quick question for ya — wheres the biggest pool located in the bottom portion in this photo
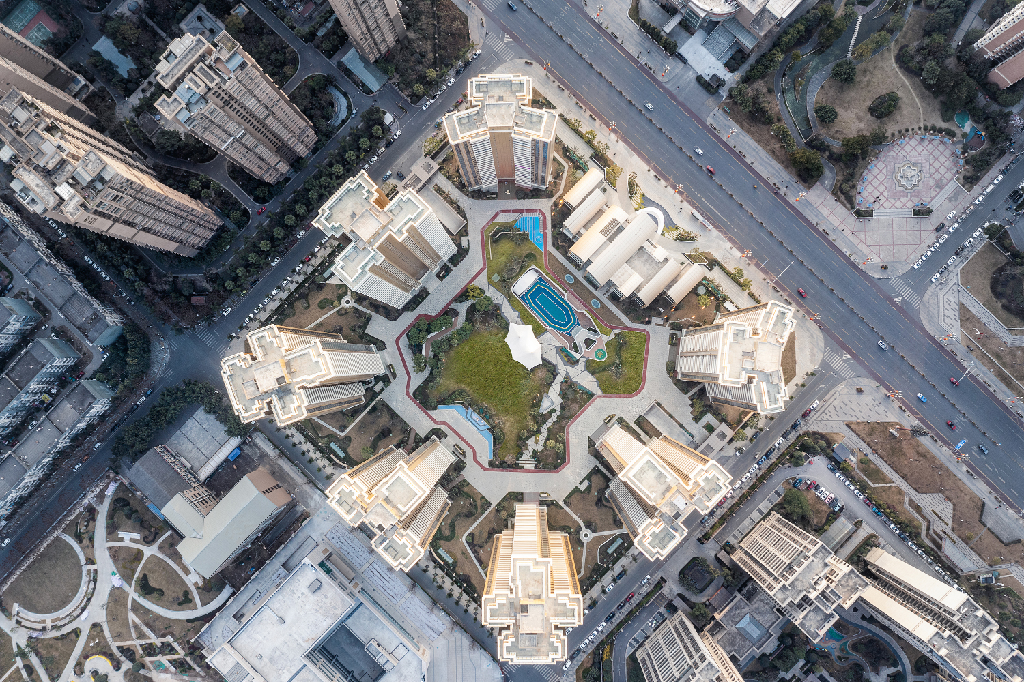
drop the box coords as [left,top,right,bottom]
[438,404,493,460]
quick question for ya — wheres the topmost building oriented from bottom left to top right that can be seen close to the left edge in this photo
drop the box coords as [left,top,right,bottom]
[0,339,75,434]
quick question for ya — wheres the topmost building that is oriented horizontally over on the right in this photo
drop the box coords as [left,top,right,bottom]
[662,0,798,61]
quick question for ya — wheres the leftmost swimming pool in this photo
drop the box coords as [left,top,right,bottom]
[92,35,129,73]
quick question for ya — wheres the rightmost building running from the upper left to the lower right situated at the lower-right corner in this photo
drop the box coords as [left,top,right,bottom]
[860,548,1024,682]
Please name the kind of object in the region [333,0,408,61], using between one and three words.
building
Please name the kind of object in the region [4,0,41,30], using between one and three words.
tennis court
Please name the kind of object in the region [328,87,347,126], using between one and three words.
swimming pool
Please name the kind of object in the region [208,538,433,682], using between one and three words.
building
